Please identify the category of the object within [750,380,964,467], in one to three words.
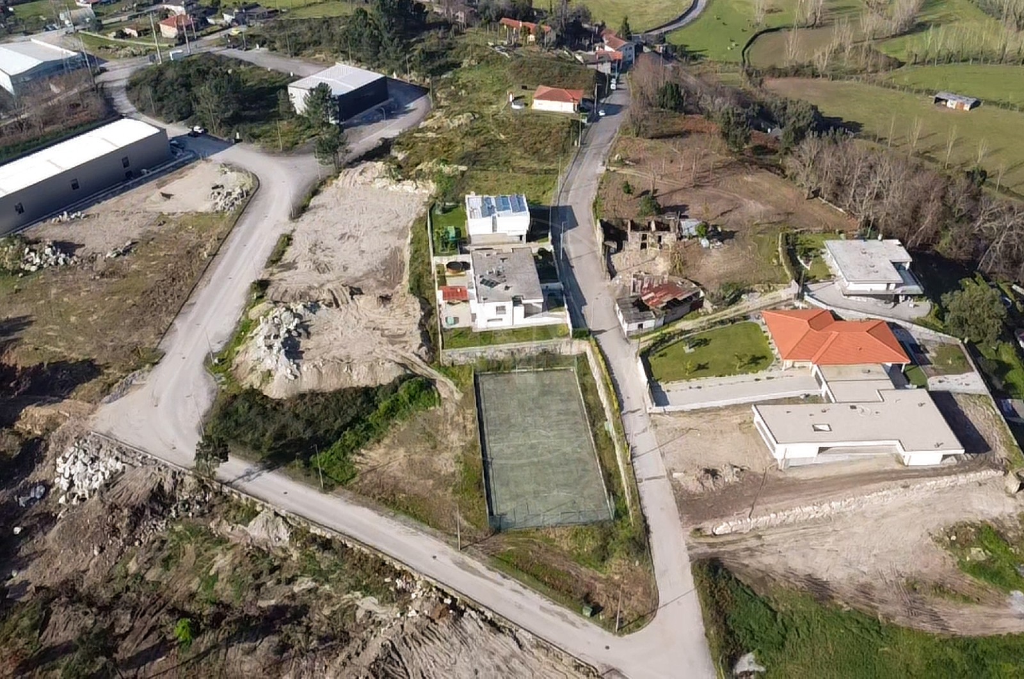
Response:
house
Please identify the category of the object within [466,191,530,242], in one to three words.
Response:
house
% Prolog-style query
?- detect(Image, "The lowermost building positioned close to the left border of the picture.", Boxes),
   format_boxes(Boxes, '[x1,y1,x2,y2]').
[0,117,170,238]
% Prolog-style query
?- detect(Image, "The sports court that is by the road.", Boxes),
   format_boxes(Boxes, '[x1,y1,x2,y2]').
[475,367,612,529]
